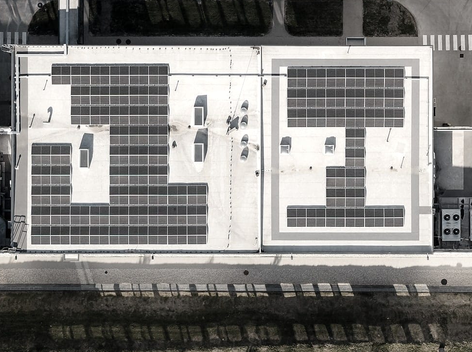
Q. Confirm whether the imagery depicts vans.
No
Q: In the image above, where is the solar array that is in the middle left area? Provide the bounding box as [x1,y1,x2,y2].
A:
[32,66,207,246]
